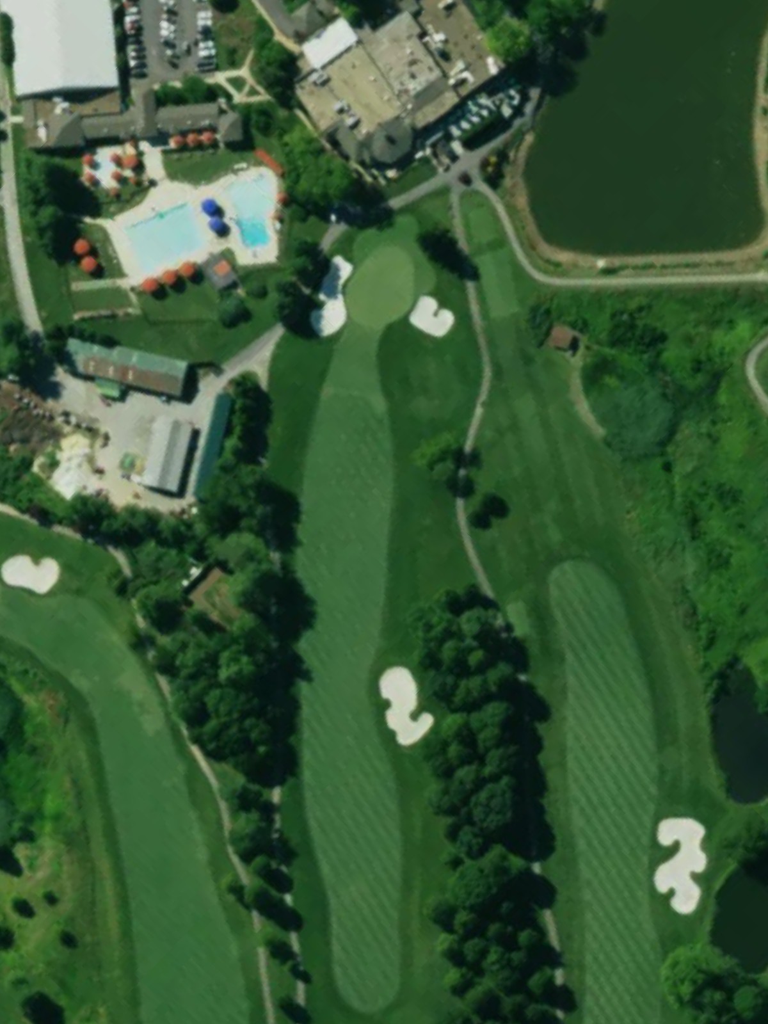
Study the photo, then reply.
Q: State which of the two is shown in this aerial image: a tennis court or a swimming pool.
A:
swimming pool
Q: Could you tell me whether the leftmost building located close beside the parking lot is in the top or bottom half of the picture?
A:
top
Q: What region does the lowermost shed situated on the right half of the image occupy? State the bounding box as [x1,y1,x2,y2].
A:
[547,325,578,352]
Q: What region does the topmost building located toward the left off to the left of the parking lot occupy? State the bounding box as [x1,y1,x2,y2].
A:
[7,0,118,95]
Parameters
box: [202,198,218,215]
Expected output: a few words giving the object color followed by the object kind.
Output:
blue umbrella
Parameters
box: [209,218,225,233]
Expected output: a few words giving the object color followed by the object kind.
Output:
blue umbrella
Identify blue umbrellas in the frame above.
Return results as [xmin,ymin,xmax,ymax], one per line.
[209,218,225,233]
[202,198,218,215]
